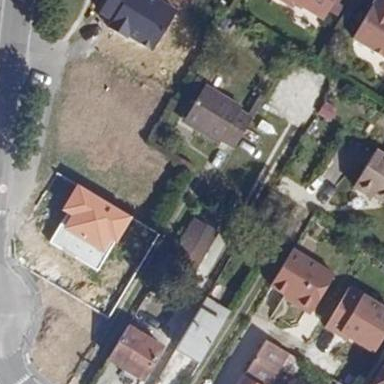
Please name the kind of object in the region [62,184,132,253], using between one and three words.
house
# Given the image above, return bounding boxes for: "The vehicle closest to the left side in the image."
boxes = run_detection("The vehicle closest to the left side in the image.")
[31,72,52,85]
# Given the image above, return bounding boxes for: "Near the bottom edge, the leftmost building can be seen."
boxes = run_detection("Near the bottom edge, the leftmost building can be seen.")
[109,324,164,380]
